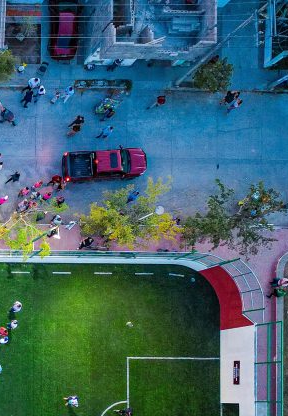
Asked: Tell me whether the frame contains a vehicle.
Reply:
Yes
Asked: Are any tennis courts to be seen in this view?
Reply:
No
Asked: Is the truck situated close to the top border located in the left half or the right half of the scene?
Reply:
left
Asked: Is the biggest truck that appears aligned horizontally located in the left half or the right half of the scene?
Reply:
left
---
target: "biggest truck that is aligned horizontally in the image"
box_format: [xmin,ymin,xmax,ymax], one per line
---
[57,146,144,184]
